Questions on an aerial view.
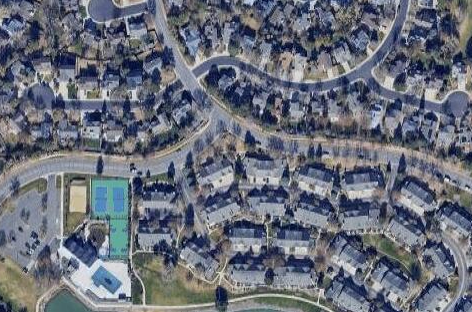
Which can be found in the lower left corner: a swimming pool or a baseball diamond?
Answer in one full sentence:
The feature located in the lower left corner is a swimming pool.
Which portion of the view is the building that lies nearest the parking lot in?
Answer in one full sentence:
Look in the bottom left portion of the view to spot the building that lies nearest the parking lot.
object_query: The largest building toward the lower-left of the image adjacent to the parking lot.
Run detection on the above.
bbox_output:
[61,233,98,266]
